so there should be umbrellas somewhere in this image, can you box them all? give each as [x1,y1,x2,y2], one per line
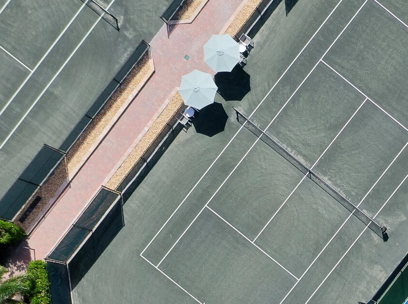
[202,34,242,74]
[180,71,217,109]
